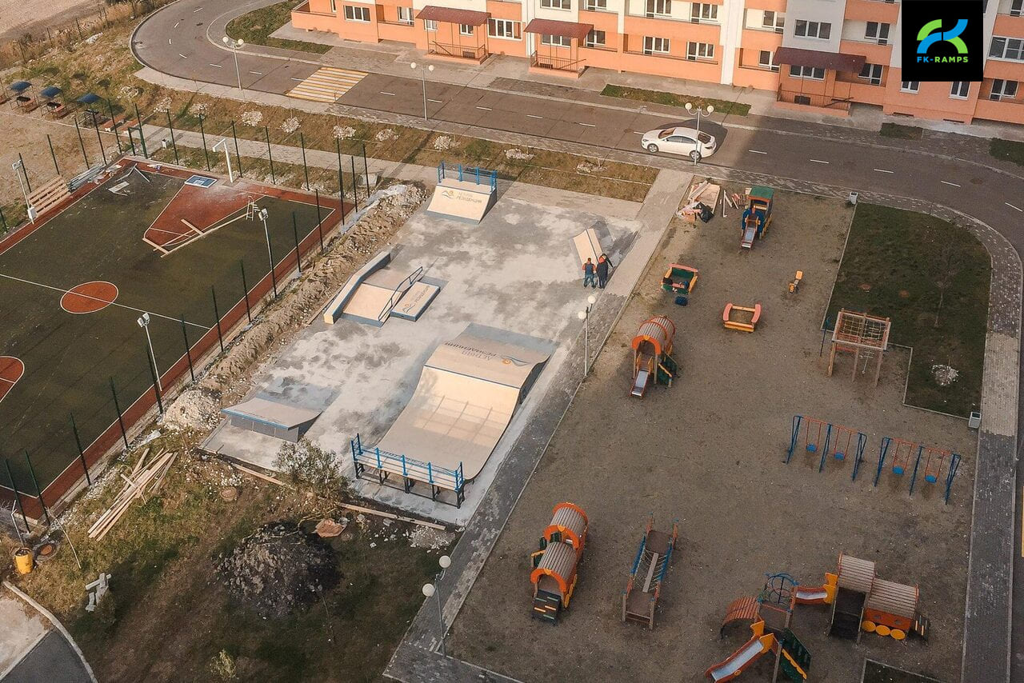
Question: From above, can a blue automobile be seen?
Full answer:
No, this view has no blue automobile in it.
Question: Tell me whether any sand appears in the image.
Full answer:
Yes, sand shows up in the scene.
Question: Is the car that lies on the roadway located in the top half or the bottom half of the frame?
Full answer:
The top half of the photo is where the car that lies on the roadway is.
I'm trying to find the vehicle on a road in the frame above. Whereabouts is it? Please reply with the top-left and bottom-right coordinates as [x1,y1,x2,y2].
[639,127,716,161]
